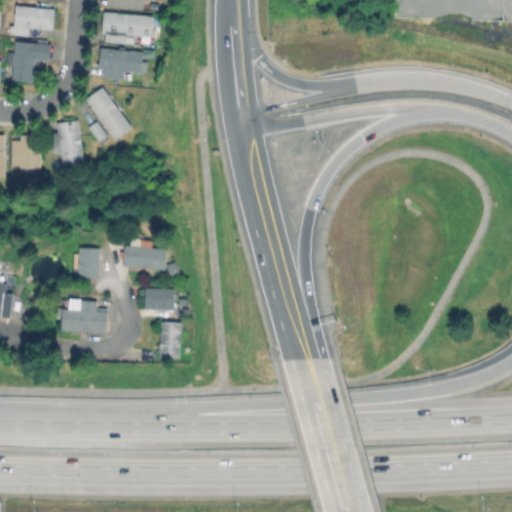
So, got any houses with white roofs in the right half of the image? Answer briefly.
No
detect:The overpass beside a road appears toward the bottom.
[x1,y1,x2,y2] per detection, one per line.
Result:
[268,330,382,512]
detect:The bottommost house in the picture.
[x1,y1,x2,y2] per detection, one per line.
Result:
[160,322,182,360]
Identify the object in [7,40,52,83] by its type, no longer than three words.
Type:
house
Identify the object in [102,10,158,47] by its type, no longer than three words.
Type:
house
